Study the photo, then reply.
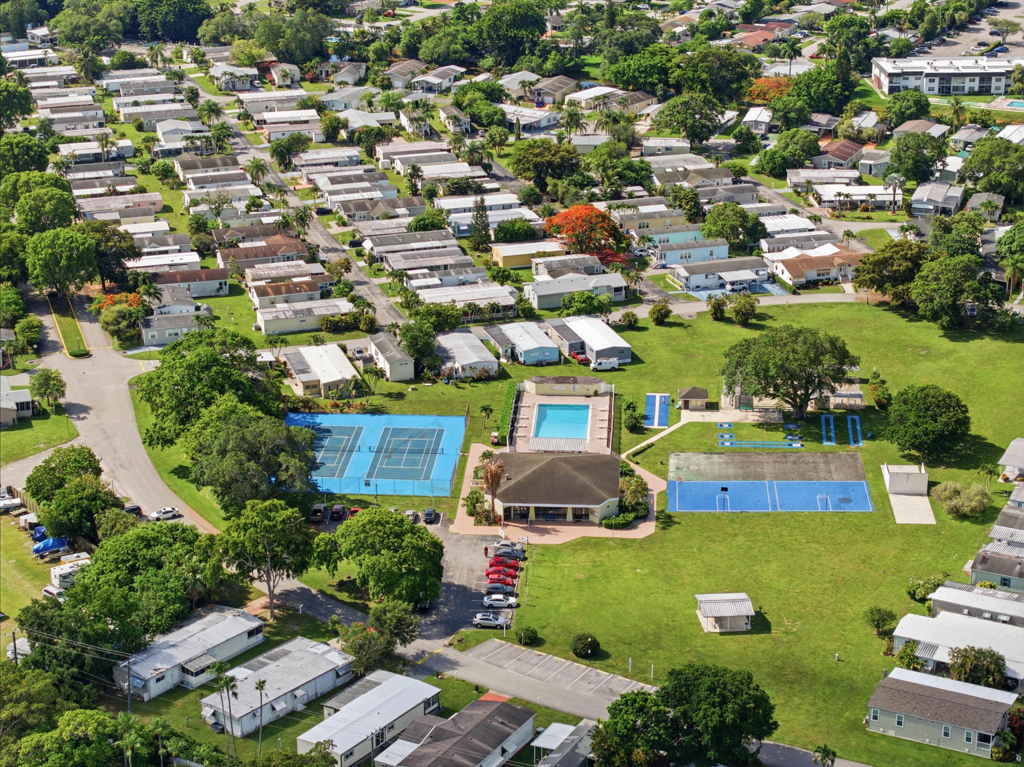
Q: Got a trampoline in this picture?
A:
No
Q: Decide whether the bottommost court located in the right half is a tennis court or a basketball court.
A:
basketball court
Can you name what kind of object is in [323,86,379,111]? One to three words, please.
house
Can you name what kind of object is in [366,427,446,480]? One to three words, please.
tennis court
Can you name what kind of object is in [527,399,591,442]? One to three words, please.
swimming pool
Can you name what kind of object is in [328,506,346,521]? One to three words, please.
car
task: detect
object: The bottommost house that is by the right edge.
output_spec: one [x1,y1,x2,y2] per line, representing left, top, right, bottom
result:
[868,673,1014,758]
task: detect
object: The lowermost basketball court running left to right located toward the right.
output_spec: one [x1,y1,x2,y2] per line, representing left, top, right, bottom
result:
[667,452,875,511]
